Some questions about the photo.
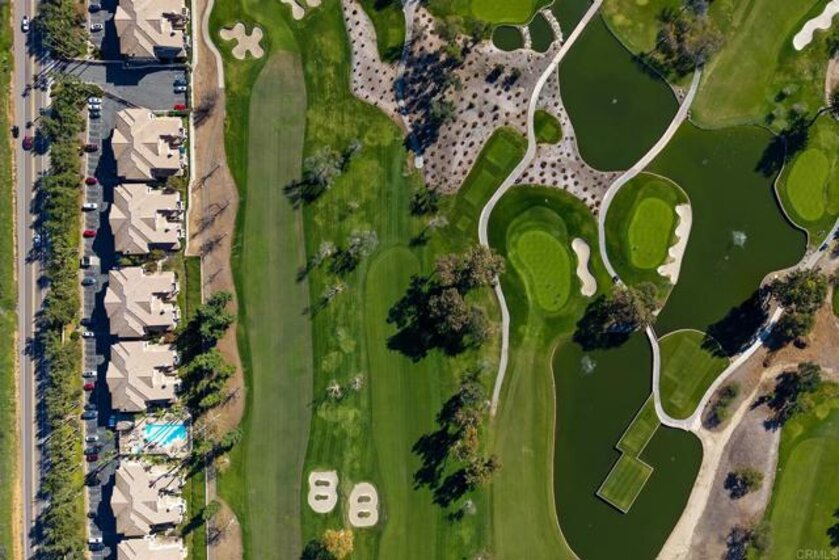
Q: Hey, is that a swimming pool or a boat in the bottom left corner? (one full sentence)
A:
You can see a swimming pool in the bottom left corner.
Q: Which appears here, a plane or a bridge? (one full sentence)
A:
Visible in the photo is a bridge.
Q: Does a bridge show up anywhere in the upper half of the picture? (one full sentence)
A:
Yes, in the upper half of the picture there is a bridge.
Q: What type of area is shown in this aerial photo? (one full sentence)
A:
What you see here is a golf course.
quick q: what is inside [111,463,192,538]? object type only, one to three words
building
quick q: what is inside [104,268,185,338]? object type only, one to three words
building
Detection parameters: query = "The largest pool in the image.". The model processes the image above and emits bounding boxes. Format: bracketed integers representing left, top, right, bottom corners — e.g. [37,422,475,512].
[118,414,193,457]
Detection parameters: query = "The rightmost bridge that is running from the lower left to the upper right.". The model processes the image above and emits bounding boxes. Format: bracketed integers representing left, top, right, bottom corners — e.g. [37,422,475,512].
[635,101,693,172]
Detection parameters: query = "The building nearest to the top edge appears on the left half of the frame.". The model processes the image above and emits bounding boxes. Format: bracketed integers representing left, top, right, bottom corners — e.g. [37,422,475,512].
[114,0,194,61]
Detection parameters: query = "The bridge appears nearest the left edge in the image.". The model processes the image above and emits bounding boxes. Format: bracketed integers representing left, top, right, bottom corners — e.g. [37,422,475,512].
[557,0,607,60]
